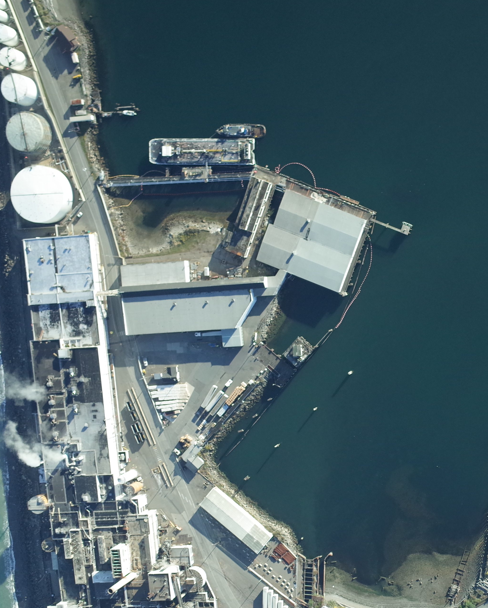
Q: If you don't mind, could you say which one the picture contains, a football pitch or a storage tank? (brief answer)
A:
storage tank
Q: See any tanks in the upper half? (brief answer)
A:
Yes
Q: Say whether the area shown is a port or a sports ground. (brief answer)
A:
port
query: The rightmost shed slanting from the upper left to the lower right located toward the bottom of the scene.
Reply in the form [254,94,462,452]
[199,486,277,554]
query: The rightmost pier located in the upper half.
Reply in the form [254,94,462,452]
[250,165,377,296]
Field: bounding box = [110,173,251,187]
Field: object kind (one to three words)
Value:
pier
